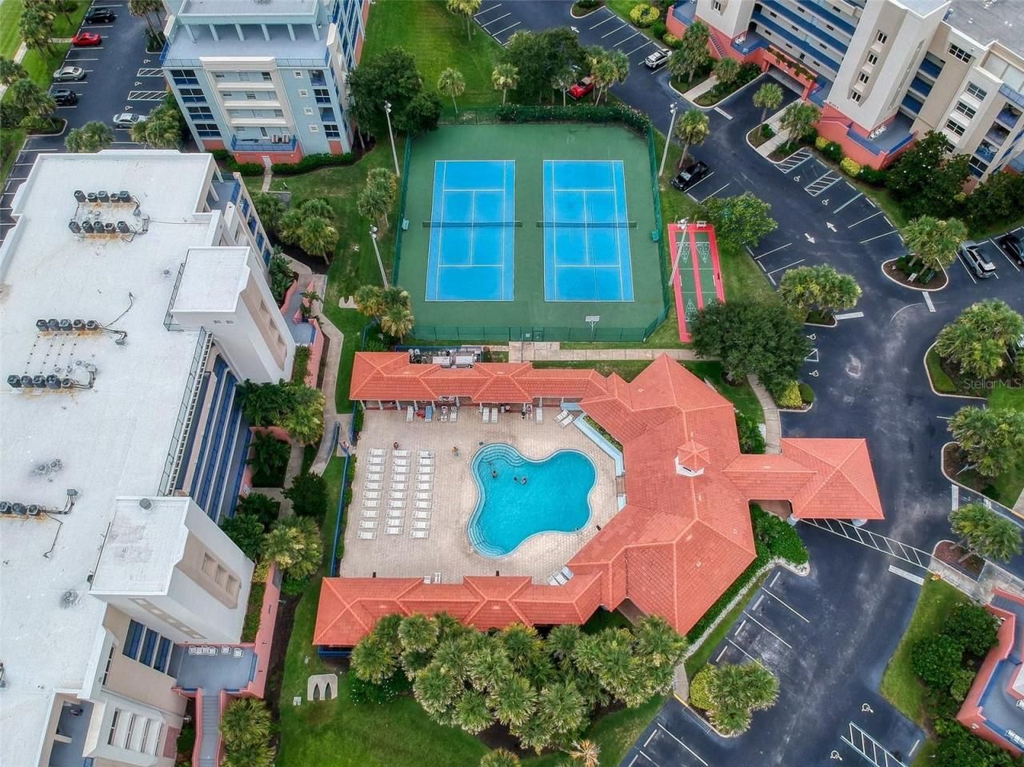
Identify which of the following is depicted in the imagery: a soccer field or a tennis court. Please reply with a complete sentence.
I can see a tennis court in this picture.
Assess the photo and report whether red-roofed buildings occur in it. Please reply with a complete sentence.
Yes, the image includes a red-roofed building.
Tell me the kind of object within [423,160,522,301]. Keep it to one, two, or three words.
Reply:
tennis court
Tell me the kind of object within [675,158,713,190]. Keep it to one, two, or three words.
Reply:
truck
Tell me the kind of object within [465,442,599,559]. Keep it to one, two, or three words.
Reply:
swimming pool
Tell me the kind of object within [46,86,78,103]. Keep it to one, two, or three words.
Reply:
car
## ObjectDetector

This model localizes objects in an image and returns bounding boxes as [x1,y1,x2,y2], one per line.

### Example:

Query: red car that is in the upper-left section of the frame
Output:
[69,31,99,45]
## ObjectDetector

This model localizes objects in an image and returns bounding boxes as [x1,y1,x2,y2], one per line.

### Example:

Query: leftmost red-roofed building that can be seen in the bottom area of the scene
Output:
[312,351,885,647]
